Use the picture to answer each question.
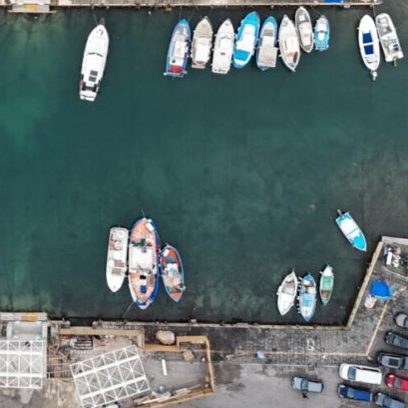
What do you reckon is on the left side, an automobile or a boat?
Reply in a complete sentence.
What appears on the left side is a boat.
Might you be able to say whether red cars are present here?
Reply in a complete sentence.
Yes, a red car can be made out from above.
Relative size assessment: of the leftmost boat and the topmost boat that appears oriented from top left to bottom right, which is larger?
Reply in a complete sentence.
The leftmost boat takes up more space than the topmost boat that appears oriented from top left to bottom right.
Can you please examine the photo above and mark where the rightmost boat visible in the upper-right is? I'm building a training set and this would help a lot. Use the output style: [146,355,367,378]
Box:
[376,2,403,66]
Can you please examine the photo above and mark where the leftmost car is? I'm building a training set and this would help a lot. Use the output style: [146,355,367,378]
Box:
[289,374,323,391]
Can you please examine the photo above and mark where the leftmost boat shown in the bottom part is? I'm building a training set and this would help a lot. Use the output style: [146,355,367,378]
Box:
[106,226,129,293]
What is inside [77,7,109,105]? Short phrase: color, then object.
white boat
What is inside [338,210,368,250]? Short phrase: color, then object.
white boat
